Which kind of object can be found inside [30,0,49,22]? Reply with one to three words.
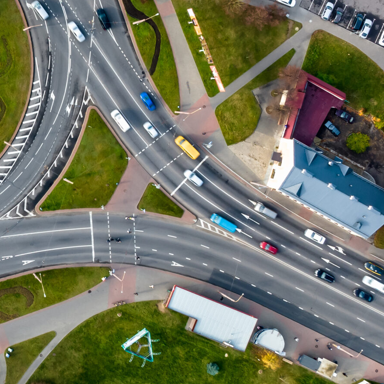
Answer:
car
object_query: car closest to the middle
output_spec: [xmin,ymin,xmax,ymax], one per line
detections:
[183,169,205,188]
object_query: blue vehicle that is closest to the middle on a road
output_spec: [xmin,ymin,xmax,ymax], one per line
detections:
[208,213,239,235]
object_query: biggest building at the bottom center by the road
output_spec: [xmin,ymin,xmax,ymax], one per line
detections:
[164,284,258,353]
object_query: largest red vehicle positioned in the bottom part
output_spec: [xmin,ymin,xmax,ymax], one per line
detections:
[259,241,279,256]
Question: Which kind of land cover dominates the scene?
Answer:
paved ground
